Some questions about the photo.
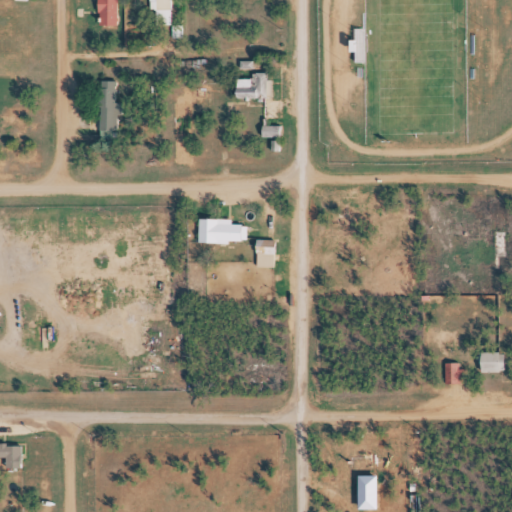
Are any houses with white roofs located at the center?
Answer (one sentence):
Yes, at the center there is a house with a white roof.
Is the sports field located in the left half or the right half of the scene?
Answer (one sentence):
The sports field appears in the right half of the scene.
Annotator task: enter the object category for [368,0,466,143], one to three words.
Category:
sports field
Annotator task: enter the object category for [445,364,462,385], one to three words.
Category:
barn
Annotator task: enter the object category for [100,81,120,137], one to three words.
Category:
house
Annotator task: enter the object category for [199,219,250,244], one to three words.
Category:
house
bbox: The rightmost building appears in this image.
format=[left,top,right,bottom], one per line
[480,352,506,373]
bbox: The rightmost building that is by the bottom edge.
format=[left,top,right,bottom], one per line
[358,476,380,510]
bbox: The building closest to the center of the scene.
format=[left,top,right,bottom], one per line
[256,240,278,267]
